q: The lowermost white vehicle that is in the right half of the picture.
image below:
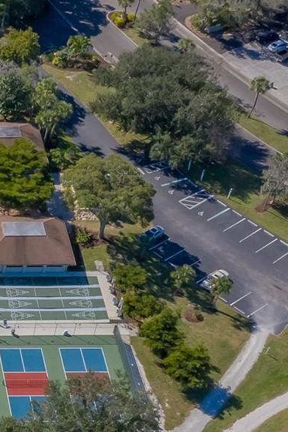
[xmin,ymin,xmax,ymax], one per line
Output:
[203,268,229,285]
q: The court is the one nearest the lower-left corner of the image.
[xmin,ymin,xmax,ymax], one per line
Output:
[0,347,51,421]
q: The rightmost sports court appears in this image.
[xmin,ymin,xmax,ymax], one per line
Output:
[59,347,113,419]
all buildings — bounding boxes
[0,123,50,175]
[0,216,76,276]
